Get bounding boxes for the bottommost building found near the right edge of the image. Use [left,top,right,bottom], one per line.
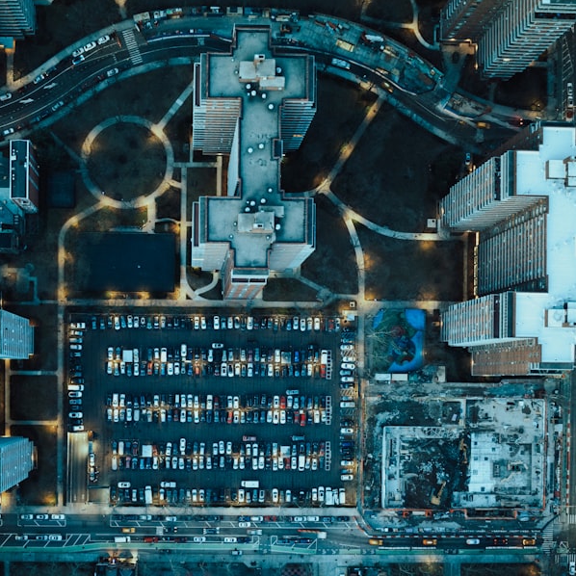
[438,121,576,375]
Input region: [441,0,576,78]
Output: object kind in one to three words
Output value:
building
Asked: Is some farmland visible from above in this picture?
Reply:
No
